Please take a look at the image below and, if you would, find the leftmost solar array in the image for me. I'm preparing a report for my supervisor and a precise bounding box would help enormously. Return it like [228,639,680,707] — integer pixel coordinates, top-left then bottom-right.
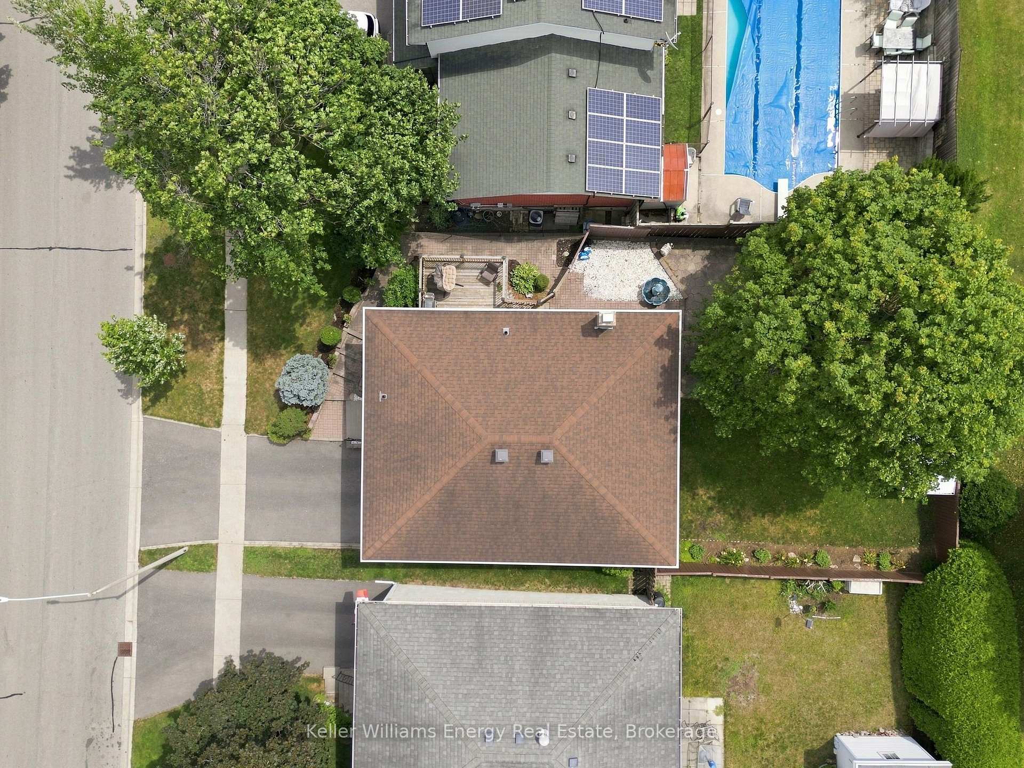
[421,0,503,27]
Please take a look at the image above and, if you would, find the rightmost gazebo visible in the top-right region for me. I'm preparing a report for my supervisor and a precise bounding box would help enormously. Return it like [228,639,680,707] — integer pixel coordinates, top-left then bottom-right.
[851,56,946,140]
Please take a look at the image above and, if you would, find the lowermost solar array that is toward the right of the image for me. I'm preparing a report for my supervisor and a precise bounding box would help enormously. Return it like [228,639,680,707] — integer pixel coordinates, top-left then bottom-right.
[586,88,661,200]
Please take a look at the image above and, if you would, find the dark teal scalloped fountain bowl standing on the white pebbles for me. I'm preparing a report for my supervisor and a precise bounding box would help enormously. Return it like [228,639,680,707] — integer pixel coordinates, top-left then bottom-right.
[642,277,670,306]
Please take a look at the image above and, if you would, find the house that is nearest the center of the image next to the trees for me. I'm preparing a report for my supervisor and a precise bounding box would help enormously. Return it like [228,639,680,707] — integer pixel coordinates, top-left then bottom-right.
[360,307,682,567]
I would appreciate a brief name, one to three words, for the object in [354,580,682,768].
house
